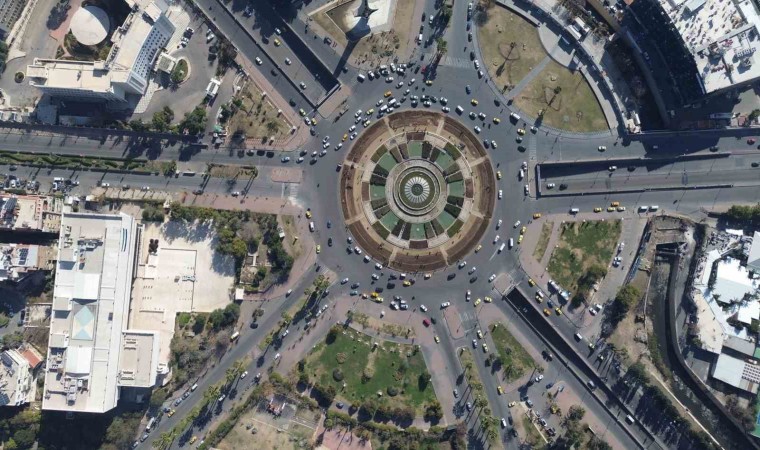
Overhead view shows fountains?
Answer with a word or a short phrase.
Yes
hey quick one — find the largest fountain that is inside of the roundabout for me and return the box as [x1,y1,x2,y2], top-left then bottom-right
[395,167,442,214]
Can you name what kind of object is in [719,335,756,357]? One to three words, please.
house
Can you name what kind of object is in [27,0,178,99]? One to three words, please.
building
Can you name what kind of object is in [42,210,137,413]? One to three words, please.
building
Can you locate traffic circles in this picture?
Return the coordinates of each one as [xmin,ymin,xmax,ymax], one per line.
[338,111,497,270]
